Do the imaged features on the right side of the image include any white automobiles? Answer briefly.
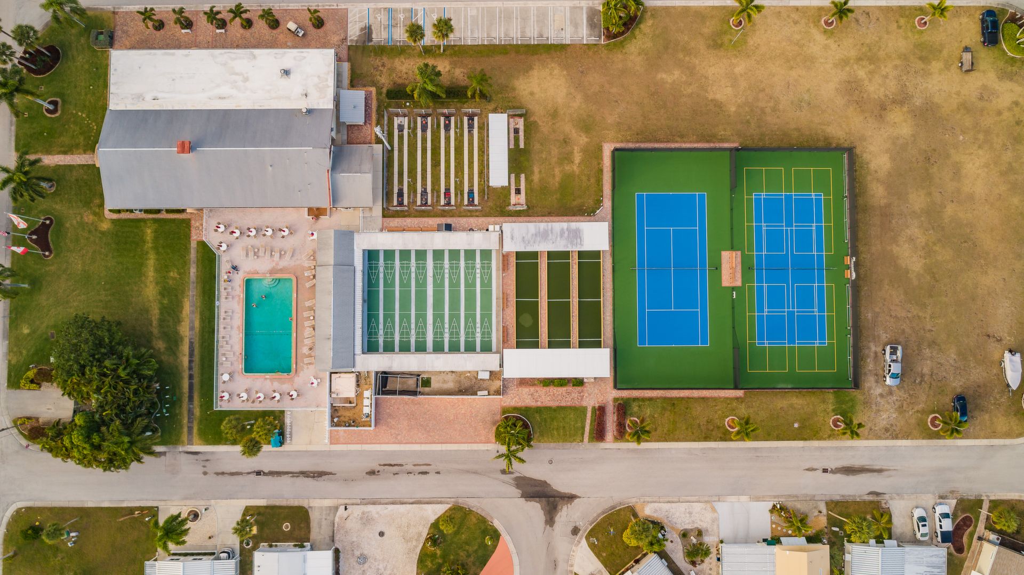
Yes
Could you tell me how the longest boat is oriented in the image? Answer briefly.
from top to bottom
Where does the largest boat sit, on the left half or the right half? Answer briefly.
right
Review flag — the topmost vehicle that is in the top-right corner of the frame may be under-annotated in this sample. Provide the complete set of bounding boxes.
[984,8,1004,46]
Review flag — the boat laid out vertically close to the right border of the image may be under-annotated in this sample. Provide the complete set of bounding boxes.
[1003,345,1023,389]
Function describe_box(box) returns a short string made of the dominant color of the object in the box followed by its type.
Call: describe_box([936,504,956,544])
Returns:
white vehicle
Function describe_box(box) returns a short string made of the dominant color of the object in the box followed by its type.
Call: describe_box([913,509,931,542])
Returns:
white car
